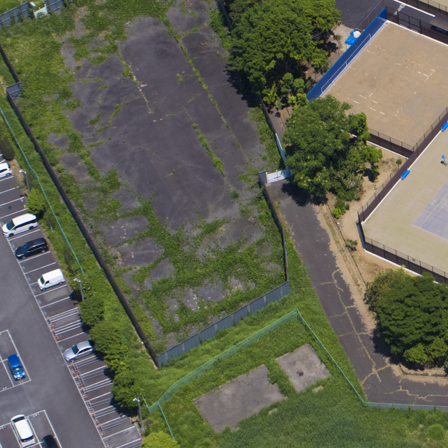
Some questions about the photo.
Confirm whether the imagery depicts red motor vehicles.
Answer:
No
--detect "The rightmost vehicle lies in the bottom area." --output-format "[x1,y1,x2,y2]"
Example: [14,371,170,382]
[63,340,97,362]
